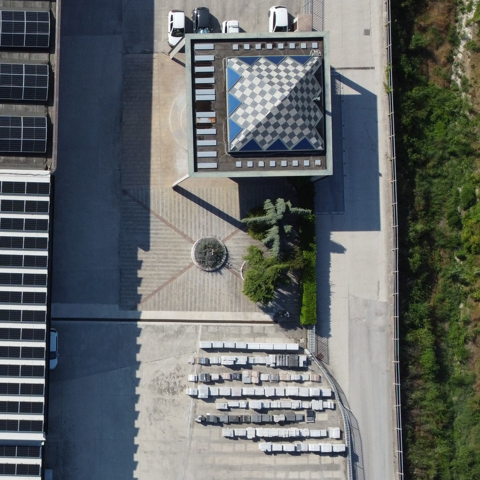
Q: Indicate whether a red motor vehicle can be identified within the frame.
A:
No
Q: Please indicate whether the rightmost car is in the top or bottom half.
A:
top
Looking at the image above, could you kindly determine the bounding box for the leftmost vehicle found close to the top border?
[168,6,189,48]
